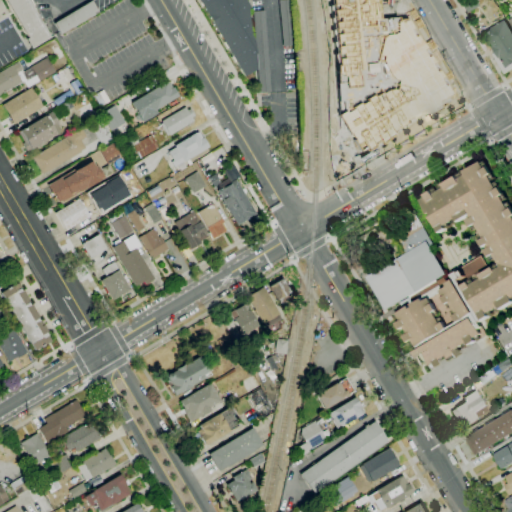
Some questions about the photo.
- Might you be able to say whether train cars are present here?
No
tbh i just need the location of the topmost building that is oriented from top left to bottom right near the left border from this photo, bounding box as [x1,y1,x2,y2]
[6,0,54,50]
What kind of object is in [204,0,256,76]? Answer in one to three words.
building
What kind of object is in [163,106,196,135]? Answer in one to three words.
house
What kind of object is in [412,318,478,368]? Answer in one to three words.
building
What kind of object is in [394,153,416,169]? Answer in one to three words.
vehicle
